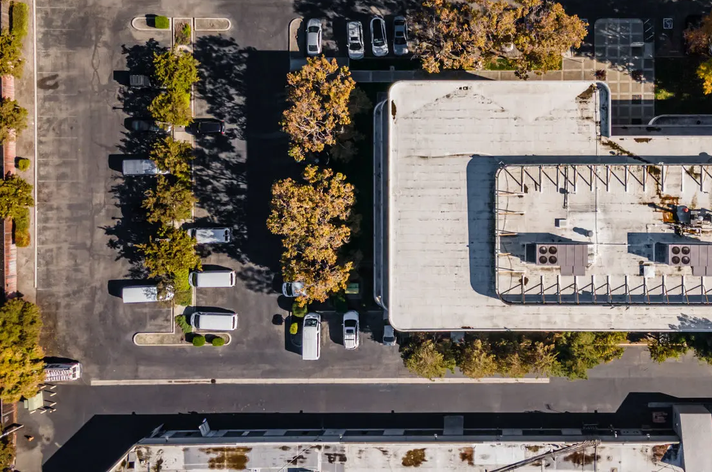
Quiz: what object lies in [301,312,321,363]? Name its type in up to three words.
vehicle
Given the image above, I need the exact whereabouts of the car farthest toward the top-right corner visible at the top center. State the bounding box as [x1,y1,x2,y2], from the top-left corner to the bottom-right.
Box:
[392,16,409,55]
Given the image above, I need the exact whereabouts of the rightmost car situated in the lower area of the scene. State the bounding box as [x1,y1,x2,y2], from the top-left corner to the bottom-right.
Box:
[381,315,398,347]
